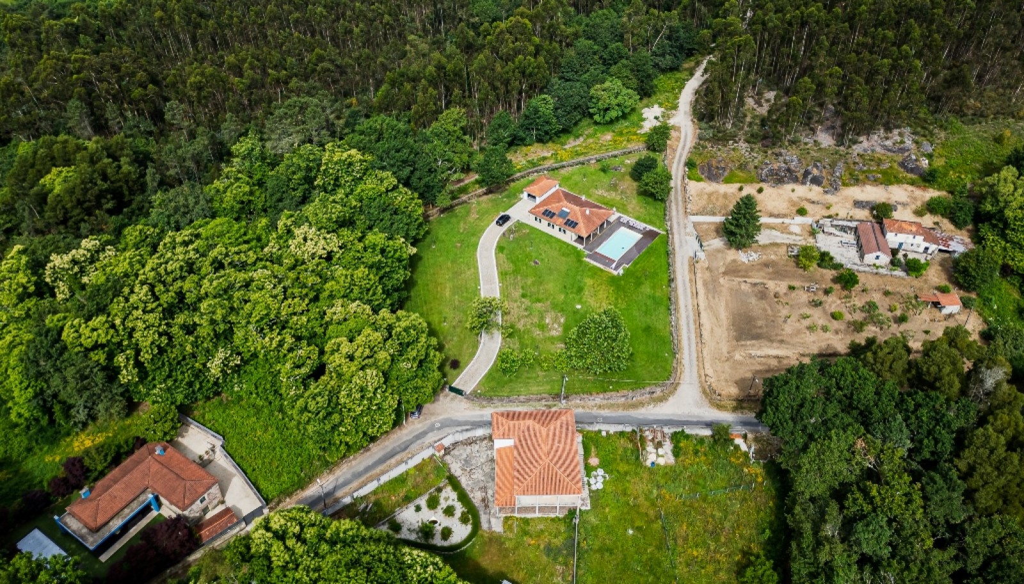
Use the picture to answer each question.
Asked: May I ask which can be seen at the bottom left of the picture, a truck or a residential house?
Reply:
residential house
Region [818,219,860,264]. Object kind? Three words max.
shed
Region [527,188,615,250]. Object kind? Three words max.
house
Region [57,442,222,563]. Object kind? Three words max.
house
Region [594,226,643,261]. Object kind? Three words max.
swimming pool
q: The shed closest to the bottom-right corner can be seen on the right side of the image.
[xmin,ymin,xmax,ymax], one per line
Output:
[917,293,962,312]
